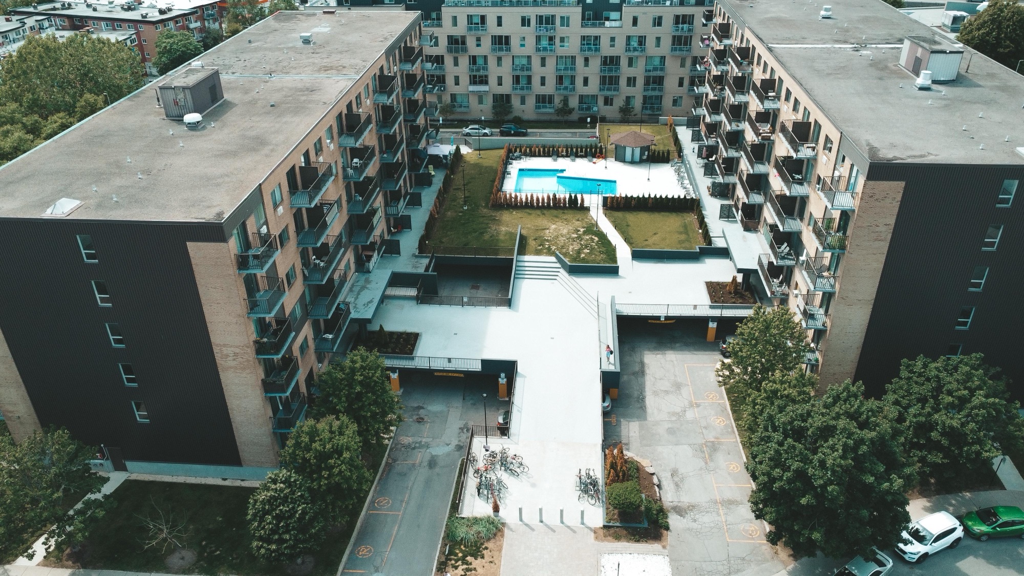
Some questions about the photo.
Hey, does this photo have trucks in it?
No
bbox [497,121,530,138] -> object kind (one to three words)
car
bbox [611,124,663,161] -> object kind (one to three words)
building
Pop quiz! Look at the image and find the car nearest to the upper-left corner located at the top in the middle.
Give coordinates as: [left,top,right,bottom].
[461,123,496,137]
